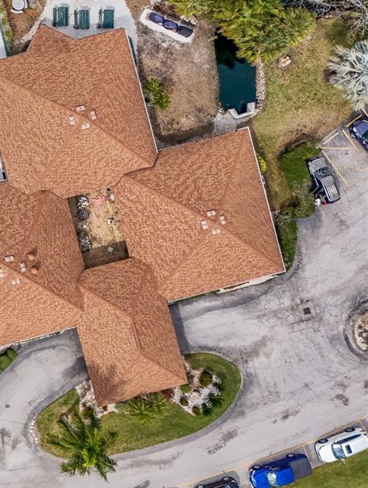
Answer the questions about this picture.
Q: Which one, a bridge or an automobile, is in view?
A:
automobile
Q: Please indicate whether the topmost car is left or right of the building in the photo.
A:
to the right of it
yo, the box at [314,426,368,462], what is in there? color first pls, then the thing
white car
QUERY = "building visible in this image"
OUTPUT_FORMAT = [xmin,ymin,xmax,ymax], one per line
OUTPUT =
[0,25,285,406]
